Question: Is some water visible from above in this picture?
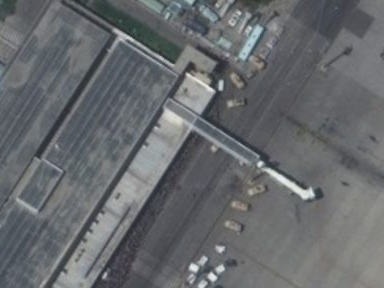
No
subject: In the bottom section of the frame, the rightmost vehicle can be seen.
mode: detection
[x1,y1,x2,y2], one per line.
[248,184,268,196]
